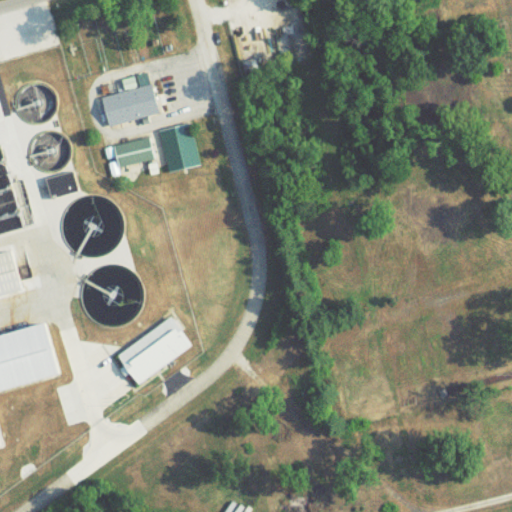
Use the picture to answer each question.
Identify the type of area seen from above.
industrial area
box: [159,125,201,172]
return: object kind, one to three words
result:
barn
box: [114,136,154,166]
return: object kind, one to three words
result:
shed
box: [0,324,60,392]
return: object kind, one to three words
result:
building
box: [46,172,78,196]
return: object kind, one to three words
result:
building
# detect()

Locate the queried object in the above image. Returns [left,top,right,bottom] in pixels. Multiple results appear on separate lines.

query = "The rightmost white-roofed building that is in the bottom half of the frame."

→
[118,319,192,385]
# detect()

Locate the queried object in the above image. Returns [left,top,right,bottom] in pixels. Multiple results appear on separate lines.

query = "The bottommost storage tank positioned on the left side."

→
[78,264,143,327]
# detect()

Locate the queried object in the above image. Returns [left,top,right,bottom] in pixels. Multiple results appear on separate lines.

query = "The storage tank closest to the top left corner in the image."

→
[10,81,57,124]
